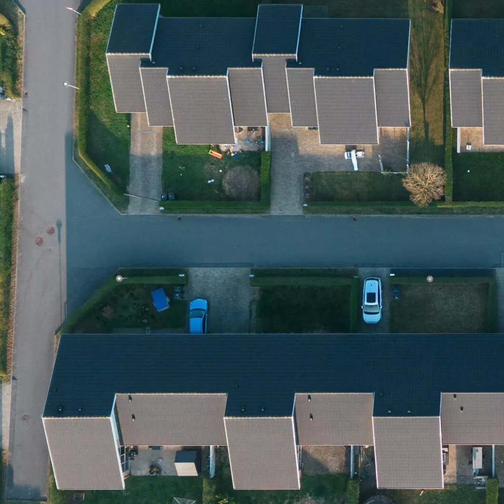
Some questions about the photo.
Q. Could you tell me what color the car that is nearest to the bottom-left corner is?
blue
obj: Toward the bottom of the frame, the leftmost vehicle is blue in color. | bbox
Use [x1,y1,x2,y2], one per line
[184,299,207,334]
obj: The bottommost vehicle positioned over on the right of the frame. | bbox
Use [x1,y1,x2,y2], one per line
[359,277,381,324]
